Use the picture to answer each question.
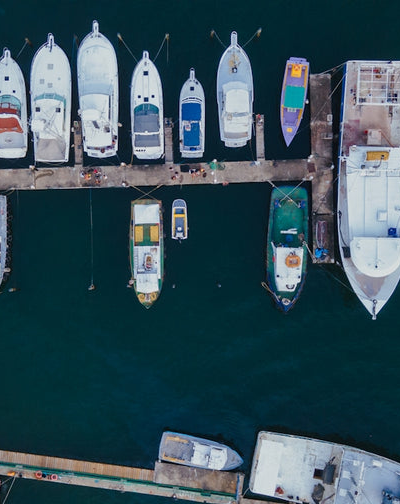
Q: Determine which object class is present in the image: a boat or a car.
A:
boat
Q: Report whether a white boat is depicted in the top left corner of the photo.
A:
Yes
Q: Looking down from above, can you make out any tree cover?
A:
No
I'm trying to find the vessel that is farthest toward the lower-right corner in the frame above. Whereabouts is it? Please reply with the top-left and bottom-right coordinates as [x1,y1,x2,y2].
[247,428,400,504]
